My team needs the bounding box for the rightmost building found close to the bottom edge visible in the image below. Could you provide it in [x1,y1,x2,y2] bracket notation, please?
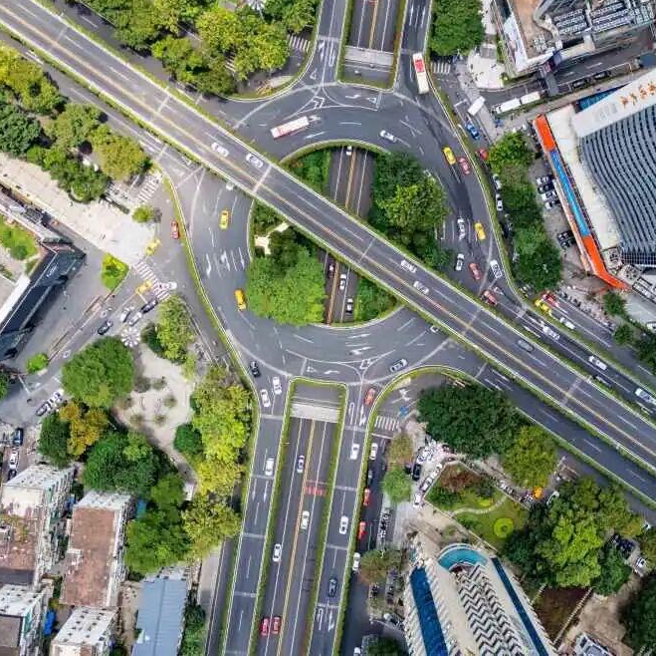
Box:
[567,622,615,656]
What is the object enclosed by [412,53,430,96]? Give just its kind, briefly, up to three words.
vehicle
